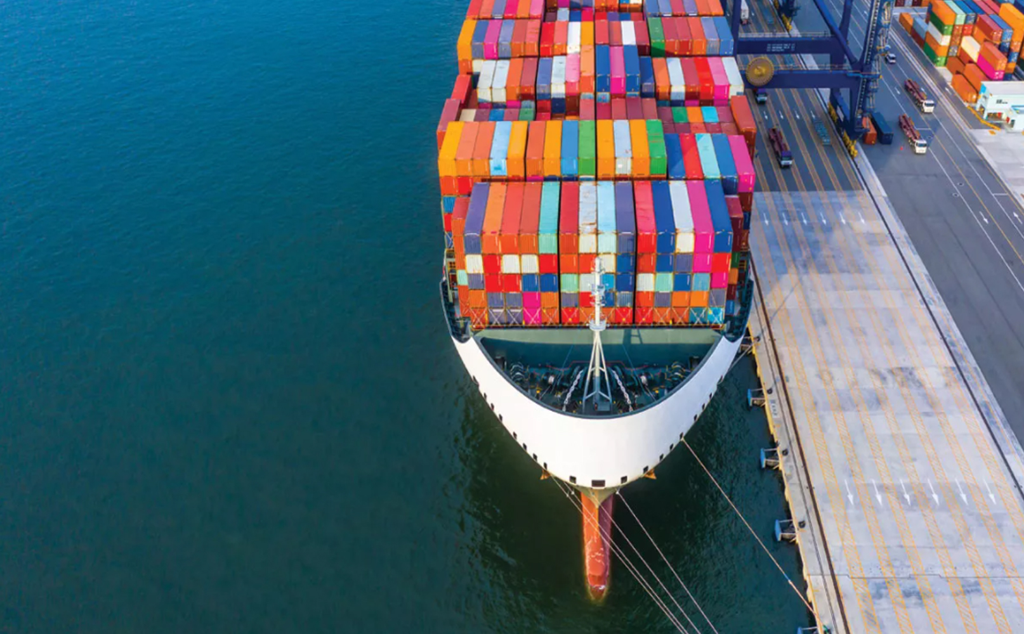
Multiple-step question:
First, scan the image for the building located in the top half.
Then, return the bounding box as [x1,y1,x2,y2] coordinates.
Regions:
[980,77,1024,132]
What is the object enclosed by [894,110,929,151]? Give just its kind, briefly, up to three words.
truck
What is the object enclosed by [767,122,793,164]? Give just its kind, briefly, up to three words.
truck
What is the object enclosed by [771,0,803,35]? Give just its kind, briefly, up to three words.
container crane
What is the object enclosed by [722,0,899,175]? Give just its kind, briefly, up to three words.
container crane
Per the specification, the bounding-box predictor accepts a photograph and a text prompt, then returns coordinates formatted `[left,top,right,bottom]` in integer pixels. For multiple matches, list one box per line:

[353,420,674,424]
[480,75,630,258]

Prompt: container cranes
[771,0,803,35]
[722,0,899,175]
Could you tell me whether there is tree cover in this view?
No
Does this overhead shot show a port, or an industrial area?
port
